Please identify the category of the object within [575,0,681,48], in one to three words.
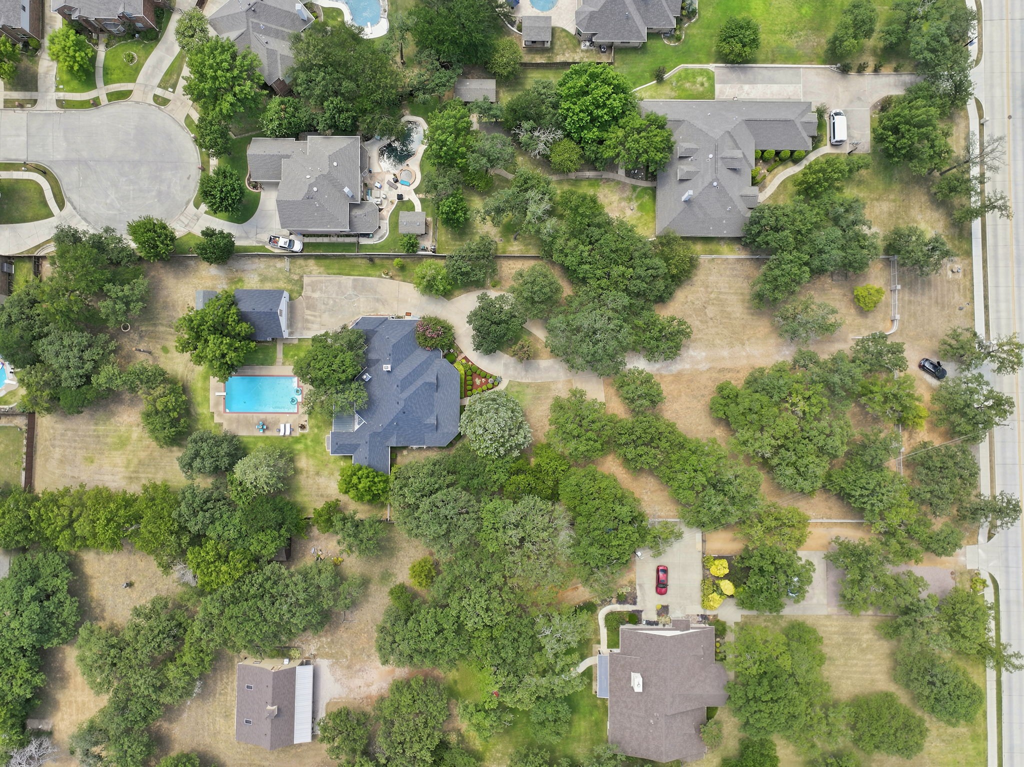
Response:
house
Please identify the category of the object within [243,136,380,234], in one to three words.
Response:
house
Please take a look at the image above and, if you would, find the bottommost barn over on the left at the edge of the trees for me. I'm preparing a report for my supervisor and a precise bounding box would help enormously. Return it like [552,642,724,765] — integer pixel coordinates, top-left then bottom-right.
[237,658,318,750]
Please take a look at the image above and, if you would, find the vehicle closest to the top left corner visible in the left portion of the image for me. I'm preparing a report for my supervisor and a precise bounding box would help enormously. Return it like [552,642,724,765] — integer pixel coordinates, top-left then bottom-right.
[265,234,305,253]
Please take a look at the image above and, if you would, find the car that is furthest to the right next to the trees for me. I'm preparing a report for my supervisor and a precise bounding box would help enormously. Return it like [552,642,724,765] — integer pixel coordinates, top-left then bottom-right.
[915,357,949,378]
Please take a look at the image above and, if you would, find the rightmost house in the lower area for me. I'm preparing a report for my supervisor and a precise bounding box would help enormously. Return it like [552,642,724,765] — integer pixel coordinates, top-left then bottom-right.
[598,616,729,767]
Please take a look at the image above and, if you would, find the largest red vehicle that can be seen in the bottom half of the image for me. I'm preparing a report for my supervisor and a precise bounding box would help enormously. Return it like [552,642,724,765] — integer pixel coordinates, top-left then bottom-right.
[654,564,670,595]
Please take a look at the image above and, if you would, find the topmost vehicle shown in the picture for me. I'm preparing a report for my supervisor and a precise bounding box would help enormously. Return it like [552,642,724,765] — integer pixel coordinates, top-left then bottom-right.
[829,108,849,147]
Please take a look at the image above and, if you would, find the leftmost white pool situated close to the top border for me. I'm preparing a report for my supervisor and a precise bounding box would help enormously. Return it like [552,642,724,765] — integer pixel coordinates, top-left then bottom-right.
[311,0,389,38]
